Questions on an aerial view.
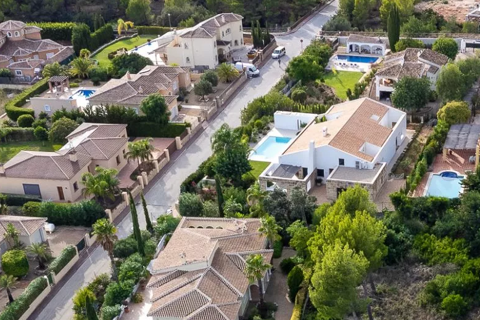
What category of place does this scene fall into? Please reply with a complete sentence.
This image shows a residential area.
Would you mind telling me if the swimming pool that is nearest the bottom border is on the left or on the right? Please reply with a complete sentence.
It is on the right.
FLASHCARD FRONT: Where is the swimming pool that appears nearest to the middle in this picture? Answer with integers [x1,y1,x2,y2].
[251,135,291,158]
